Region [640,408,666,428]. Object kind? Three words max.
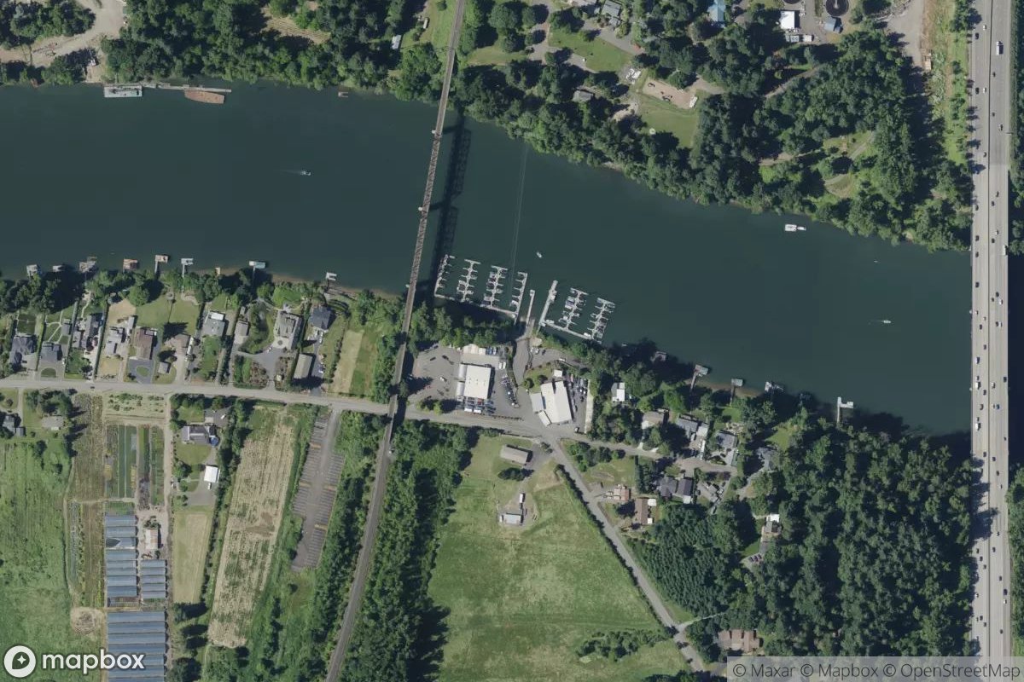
house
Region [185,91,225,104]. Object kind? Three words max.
ship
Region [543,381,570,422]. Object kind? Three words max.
building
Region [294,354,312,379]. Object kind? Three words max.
barn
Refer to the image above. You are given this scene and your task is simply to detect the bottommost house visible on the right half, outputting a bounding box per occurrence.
[725,632,754,652]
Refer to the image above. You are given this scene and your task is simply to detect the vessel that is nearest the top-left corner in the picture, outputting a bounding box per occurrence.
[104,85,143,98]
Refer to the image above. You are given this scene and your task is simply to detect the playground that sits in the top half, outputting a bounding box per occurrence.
[643,78,698,108]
